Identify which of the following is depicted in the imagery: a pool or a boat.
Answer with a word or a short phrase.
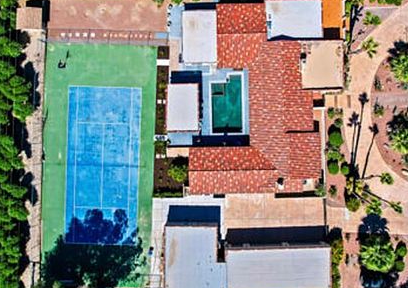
pool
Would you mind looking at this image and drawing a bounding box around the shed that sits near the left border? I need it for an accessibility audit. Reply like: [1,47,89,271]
[17,7,49,32]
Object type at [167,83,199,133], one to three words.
building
